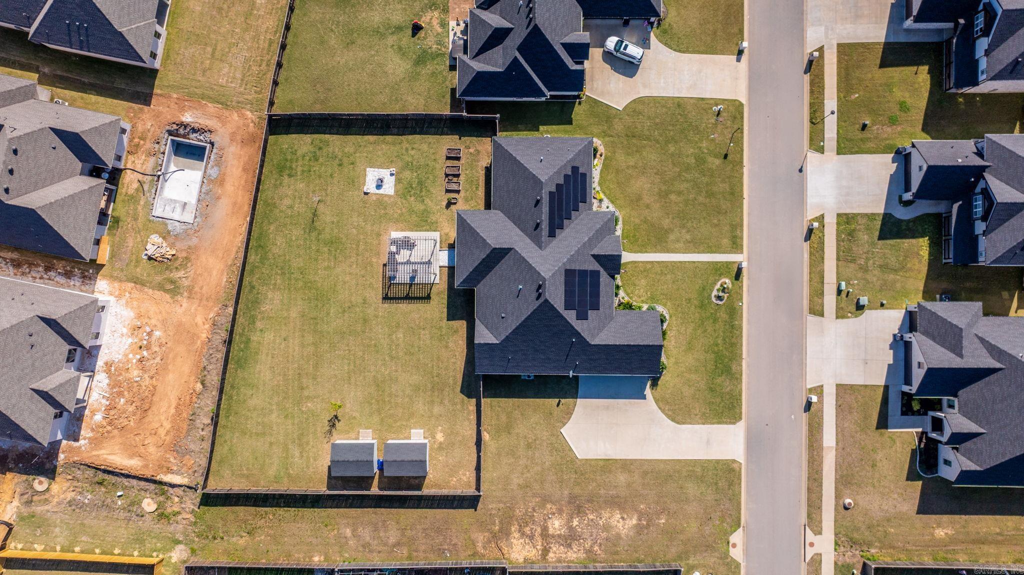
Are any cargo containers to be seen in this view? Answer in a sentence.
No, there isn't any cargo container down there.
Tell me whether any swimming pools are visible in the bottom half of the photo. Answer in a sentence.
No, no swimming pool can be made out in the bottom half of the photo.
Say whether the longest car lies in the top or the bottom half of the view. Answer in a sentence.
The top half of the photo is where the longest car is.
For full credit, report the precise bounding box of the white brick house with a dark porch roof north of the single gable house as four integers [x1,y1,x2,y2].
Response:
[898,0,1024,92]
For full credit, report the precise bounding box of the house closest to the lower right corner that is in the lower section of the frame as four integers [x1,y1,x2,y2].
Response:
[897,301,1024,487]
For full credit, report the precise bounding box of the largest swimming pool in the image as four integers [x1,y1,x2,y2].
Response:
[152,137,212,224]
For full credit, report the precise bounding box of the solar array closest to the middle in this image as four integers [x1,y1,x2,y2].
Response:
[565,269,600,320]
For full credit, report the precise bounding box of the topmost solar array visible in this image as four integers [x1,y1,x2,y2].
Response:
[549,166,587,237]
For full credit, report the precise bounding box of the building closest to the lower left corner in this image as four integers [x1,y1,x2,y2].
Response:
[0,275,110,447]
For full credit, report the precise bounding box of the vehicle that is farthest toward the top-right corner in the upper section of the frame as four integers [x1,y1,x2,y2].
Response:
[602,37,645,67]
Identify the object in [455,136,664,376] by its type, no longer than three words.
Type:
house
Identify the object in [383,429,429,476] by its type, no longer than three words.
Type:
shed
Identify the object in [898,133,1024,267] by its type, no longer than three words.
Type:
house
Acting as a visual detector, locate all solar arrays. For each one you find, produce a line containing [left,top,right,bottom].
[565,269,600,320]
[549,166,587,237]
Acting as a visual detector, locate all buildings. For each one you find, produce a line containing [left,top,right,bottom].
[898,0,1024,92]
[455,136,664,376]
[329,429,377,476]
[898,133,1024,267]
[383,429,429,476]
[0,73,133,263]
[0,0,173,67]
[456,0,663,100]
[897,301,1024,487]
[0,275,110,447]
